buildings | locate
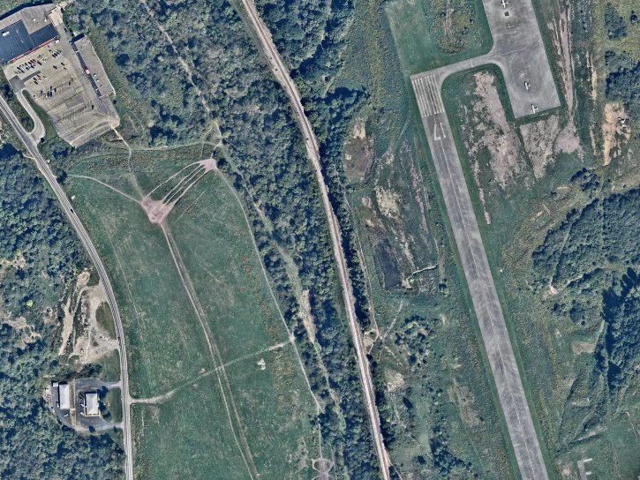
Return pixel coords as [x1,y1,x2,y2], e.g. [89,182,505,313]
[58,384,70,409]
[71,34,114,97]
[85,393,98,415]
[0,3,58,64]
